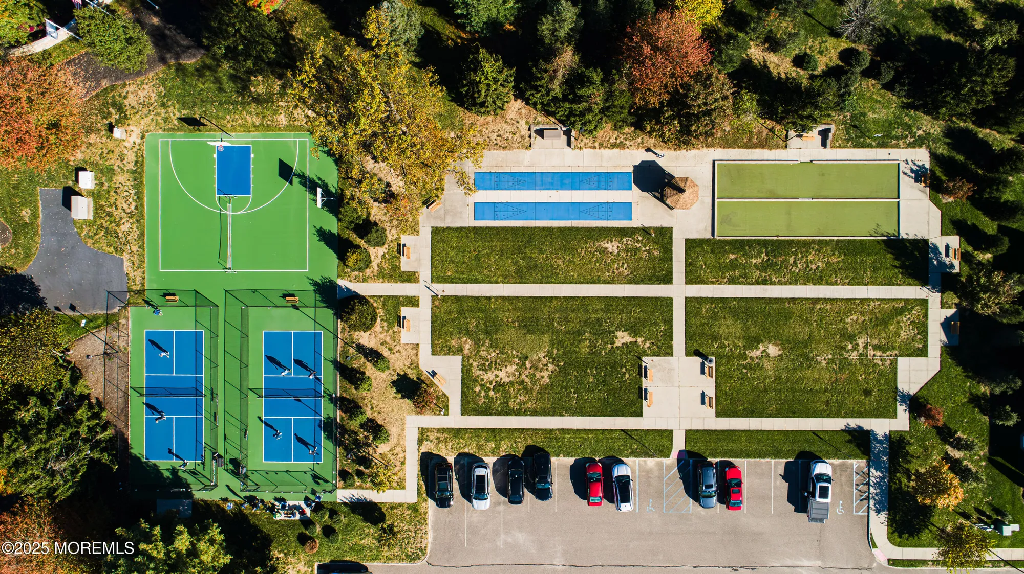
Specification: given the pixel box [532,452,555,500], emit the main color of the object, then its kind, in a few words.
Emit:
black car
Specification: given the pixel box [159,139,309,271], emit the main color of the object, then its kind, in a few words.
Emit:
green basketball court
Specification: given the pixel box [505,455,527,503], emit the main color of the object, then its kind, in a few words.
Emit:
black car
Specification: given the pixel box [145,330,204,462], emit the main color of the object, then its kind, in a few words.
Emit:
blue sports court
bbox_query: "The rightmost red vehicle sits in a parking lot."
[723,465,744,509]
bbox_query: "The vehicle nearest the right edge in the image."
[806,458,834,523]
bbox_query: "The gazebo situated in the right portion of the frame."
[661,175,700,211]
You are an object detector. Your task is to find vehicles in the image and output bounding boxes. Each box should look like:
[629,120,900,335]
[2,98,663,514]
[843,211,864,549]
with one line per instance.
[505,455,527,503]
[806,458,834,523]
[584,461,604,505]
[532,452,555,500]
[610,462,633,511]
[696,461,719,507]
[433,461,455,507]
[723,465,744,509]
[469,462,492,509]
